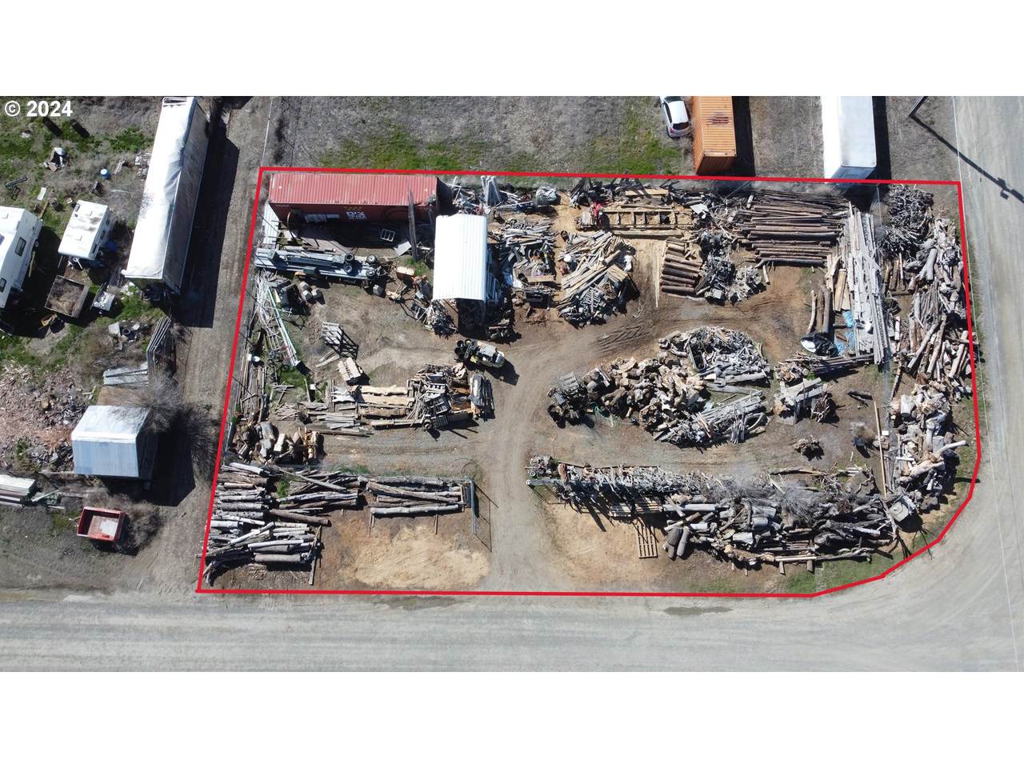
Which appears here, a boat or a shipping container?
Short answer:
shipping container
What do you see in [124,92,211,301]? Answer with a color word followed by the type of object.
white trailer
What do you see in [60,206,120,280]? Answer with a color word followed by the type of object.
white vehicle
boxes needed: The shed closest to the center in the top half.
[433,214,489,313]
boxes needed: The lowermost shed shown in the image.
[68,402,166,482]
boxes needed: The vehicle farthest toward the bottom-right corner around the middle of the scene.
[554,371,591,412]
